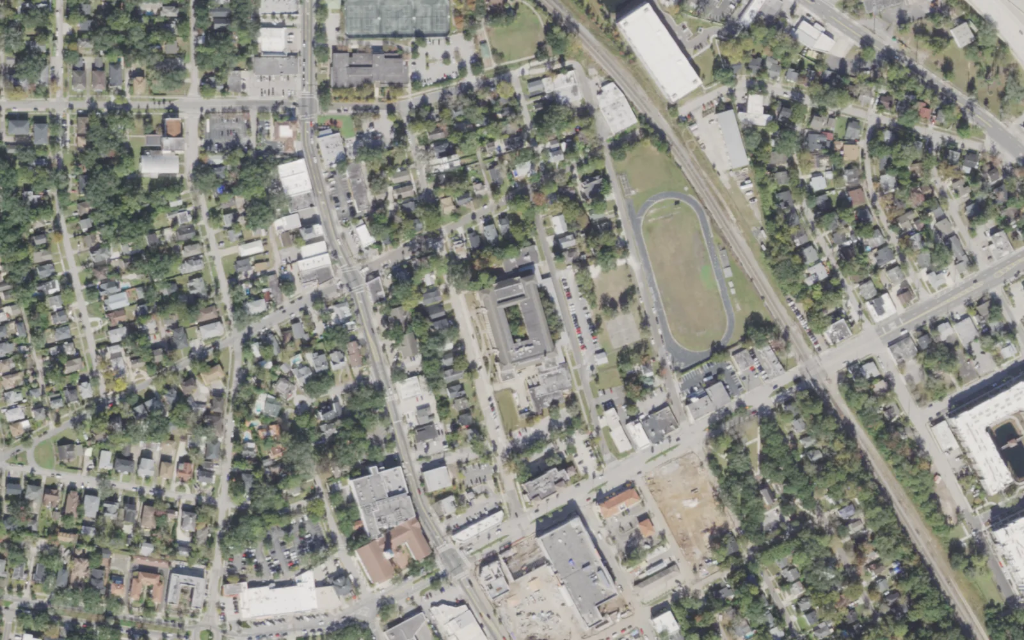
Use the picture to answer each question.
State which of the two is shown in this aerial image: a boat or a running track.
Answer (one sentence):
It is a running track that can be seen here.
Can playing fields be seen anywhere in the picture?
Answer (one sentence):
Yes, I can see a playing field in this picture.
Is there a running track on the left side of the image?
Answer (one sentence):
No, I can find no running track on the left side of the image.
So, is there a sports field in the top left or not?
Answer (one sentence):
No, looking in the top left, there is no sports field.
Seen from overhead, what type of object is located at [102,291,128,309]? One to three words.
house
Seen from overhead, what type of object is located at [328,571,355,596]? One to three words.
house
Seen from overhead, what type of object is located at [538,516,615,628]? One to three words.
building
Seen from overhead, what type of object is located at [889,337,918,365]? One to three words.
building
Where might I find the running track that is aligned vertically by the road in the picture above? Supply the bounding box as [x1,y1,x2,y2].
[627,191,735,370]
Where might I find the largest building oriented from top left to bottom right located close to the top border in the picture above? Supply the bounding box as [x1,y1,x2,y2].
[617,2,703,102]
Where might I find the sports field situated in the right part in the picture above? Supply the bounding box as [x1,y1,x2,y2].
[642,199,727,351]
